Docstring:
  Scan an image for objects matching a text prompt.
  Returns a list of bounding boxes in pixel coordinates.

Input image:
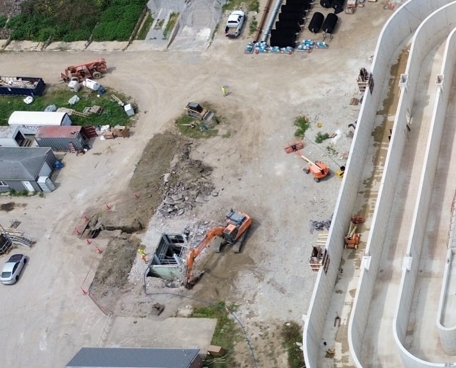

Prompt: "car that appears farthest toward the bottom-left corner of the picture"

[0,252,26,282]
